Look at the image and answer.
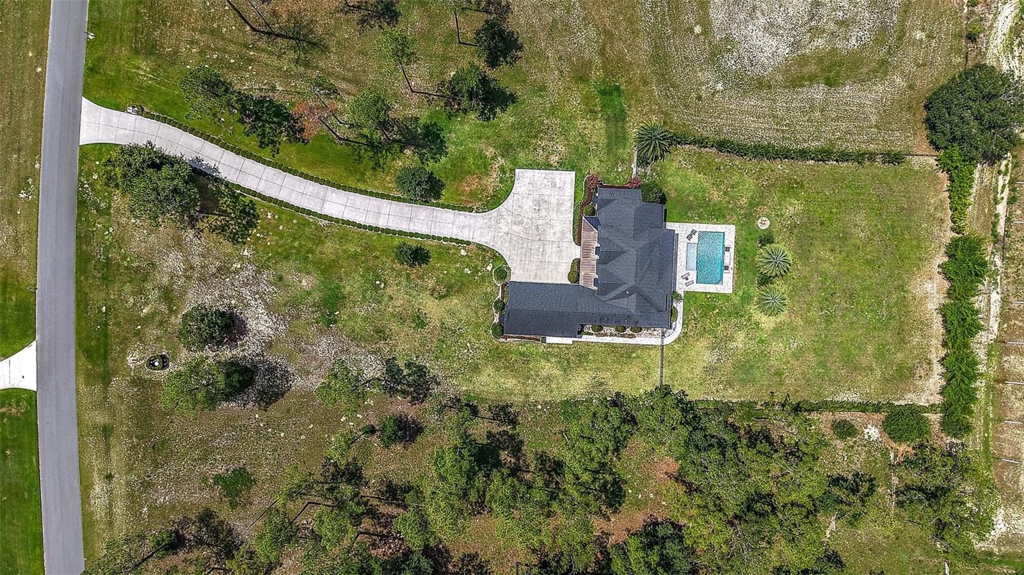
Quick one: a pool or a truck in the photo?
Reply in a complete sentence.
There is a pool in the scene.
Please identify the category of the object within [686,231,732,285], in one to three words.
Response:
swimming pool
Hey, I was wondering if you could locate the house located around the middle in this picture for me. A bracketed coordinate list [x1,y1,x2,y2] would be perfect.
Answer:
[504,187,680,338]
